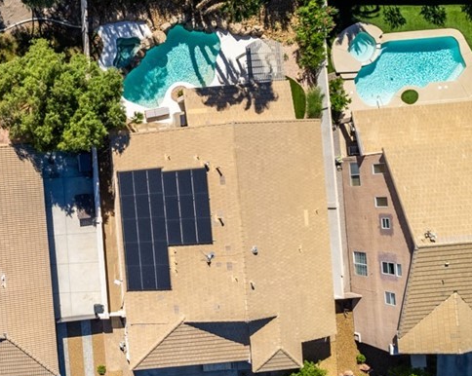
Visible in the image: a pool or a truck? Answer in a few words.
pool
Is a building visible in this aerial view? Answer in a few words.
Yes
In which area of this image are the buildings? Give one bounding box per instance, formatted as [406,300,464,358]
[337,97,472,360]
[112,79,337,375]
[0,144,61,376]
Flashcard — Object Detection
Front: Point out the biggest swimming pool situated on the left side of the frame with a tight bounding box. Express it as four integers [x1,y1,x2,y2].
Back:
[123,25,220,107]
